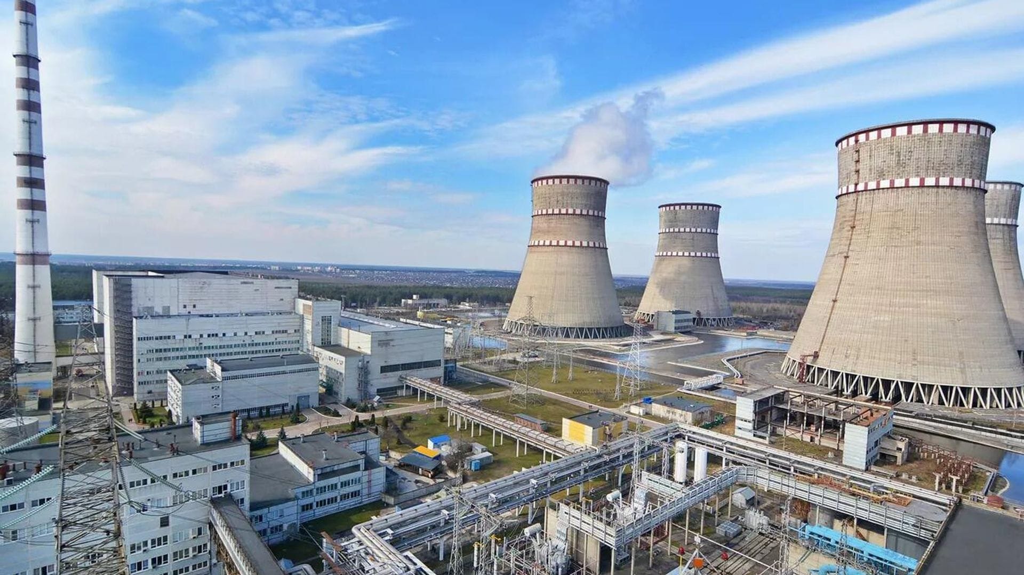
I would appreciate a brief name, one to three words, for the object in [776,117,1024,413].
cooling tower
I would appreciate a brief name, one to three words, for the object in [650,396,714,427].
building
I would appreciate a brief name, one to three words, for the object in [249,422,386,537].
building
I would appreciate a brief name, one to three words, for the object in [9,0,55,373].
chimney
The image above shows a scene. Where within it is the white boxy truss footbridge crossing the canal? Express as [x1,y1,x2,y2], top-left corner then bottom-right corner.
[681,371,734,392]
